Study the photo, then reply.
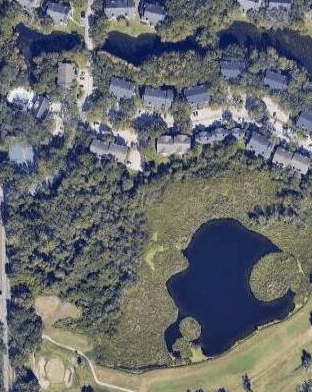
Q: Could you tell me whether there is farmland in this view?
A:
No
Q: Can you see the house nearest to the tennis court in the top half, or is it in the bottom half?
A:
top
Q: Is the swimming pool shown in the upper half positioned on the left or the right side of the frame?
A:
left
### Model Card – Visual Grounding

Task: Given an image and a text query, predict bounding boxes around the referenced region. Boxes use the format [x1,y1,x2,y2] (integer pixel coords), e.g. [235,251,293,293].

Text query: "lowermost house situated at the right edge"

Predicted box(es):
[271,147,312,176]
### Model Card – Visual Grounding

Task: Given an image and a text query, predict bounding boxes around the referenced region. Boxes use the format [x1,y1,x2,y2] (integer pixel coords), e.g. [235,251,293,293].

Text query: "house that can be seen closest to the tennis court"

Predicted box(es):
[30,94,54,119]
